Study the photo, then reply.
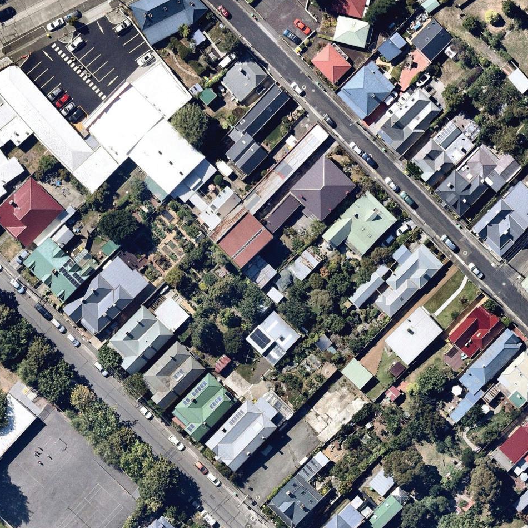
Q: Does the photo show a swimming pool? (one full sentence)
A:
No, the scene contains no swimming pool.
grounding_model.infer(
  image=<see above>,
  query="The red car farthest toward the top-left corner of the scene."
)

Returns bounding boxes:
[55,94,71,107]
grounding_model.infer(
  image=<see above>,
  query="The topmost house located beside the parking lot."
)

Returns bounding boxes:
[129,0,204,43]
